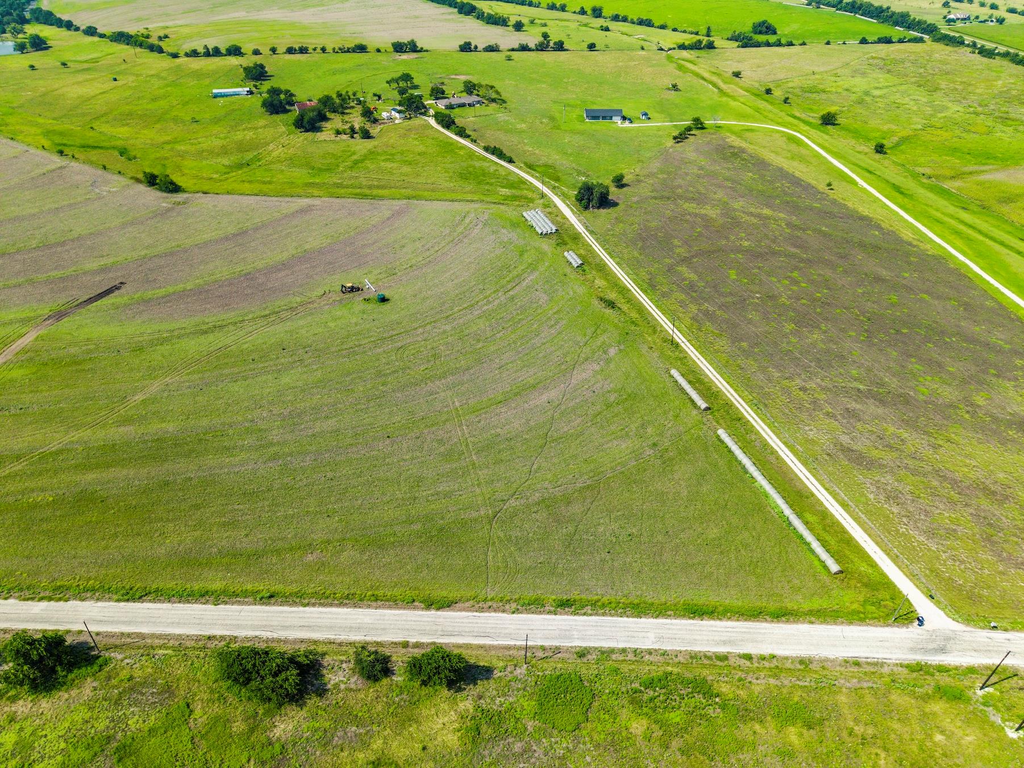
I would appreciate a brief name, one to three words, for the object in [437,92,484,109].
house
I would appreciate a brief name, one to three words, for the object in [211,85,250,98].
barn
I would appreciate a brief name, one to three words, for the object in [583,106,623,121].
house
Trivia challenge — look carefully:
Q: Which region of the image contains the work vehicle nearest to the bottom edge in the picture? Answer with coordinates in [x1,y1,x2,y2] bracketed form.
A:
[339,281,368,294]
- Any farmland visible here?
Yes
